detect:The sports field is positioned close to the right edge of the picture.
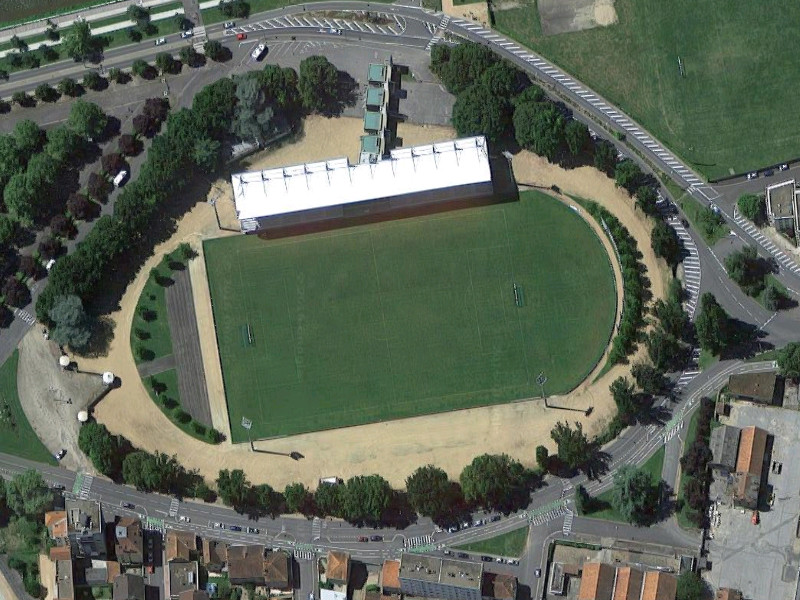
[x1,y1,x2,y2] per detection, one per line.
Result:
[491,0,800,182]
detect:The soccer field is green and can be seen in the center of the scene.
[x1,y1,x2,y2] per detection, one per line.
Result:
[203,189,616,443]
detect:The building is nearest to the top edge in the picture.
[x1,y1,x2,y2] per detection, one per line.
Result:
[369,64,387,88]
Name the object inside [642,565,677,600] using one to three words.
building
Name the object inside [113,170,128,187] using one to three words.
vehicle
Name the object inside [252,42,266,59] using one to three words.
camper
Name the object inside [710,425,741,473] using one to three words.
shed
